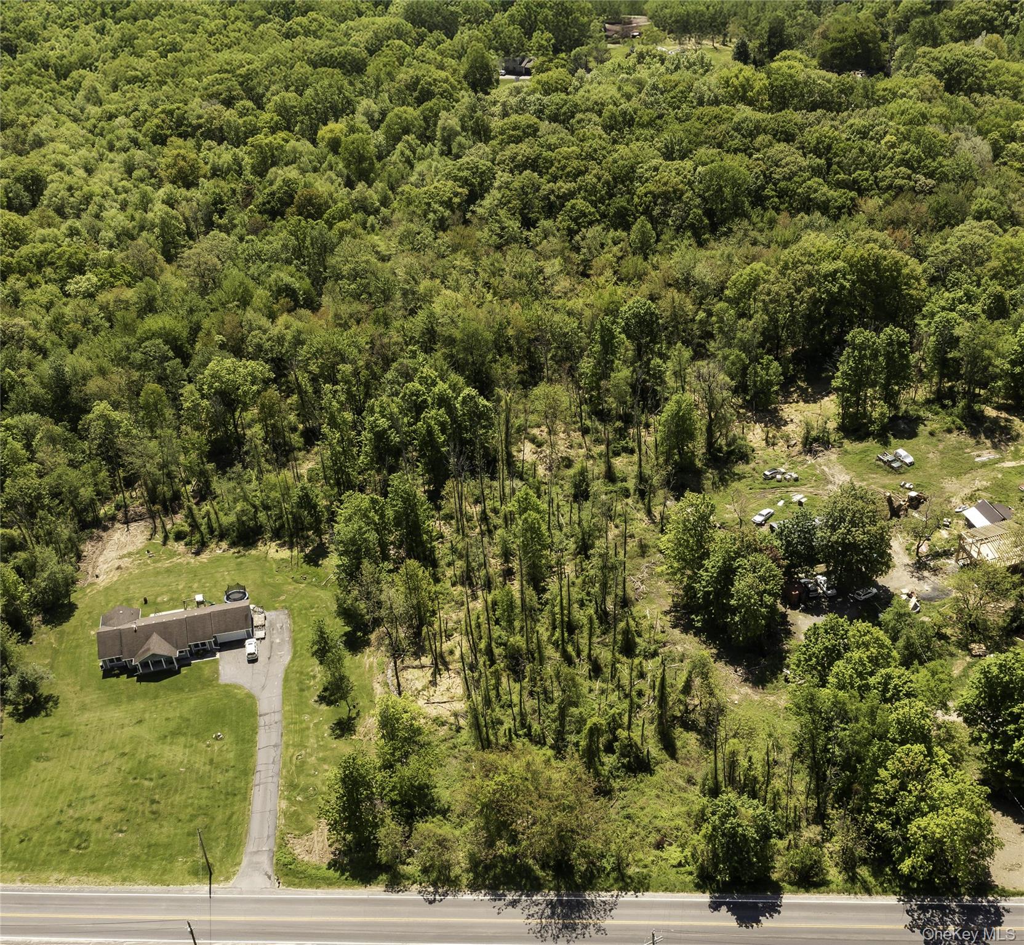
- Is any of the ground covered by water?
No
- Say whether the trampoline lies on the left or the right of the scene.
left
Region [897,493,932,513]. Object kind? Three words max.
work vehicle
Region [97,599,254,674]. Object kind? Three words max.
house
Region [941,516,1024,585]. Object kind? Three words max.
building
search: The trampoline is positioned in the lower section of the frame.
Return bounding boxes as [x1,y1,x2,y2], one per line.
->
[224,583,248,603]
